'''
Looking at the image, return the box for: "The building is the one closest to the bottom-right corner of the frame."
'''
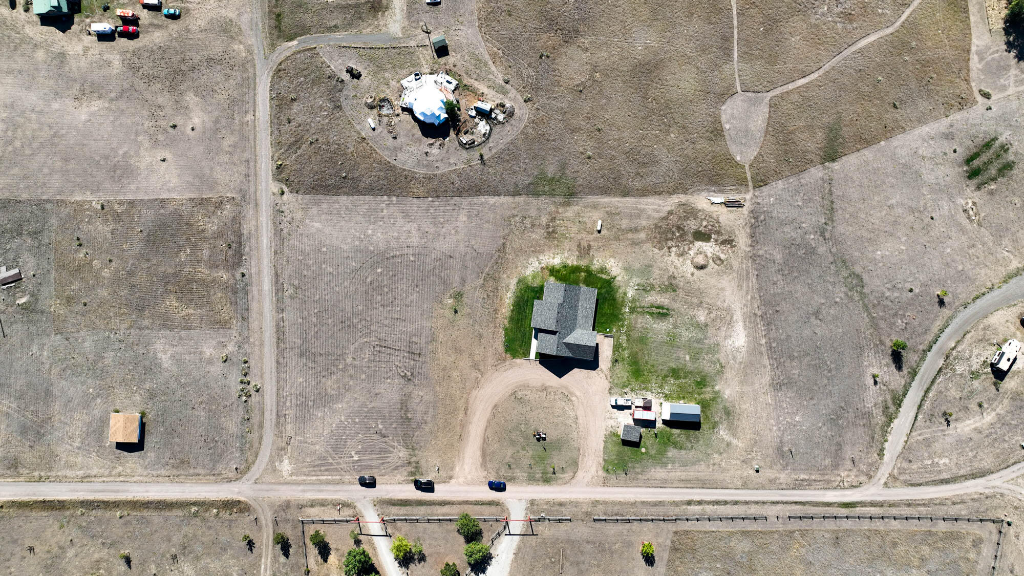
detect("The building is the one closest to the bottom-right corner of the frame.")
[660,404,702,423]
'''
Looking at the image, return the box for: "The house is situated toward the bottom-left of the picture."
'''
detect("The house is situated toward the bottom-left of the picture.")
[110,412,145,443]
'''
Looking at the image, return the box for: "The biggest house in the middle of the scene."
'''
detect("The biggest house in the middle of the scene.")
[530,282,598,360]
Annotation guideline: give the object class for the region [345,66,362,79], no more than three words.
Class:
vehicle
